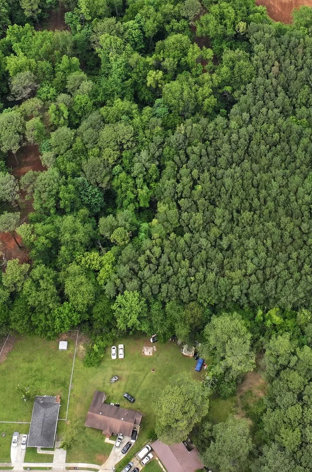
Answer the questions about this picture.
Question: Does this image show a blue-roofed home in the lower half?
No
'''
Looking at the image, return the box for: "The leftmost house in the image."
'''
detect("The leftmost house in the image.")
[27,396,61,447]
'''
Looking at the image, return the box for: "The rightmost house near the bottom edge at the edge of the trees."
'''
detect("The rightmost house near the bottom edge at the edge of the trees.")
[152,433,203,472]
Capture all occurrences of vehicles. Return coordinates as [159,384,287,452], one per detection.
[195,357,204,372]
[122,392,136,404]
[114,434,123,450]
[129,425,139,446]
[138,443,152,460]
[120,440,132,456]
[20,433,28,450]
[112,345,117,359]
[118,344,125,359]
[11,430,20,449]
[122,460,134,472]
[140,450,156,469]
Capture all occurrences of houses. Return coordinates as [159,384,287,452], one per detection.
[86,391,142,436]
[27,396,61,447]
[152,433,203,472]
